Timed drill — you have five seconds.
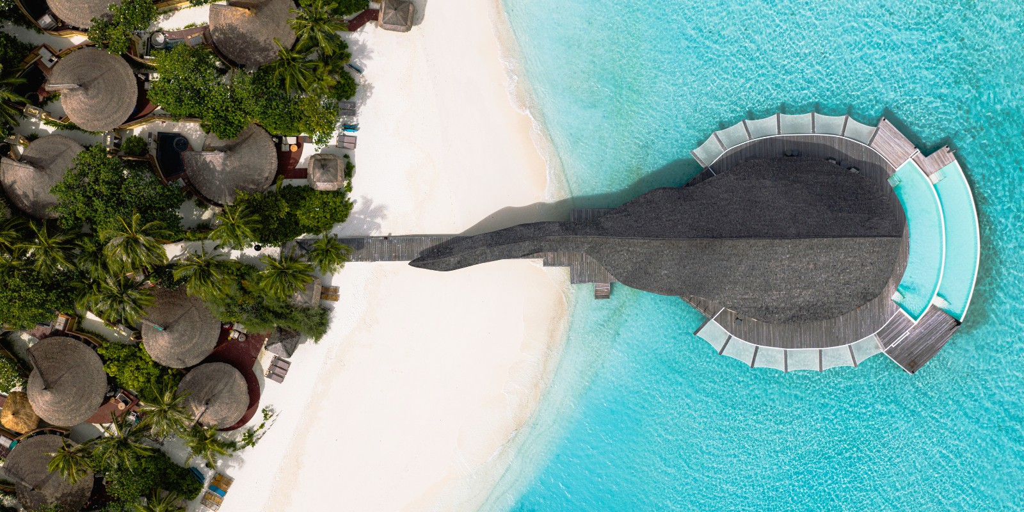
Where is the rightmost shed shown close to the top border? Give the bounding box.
[377,0,416,31]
